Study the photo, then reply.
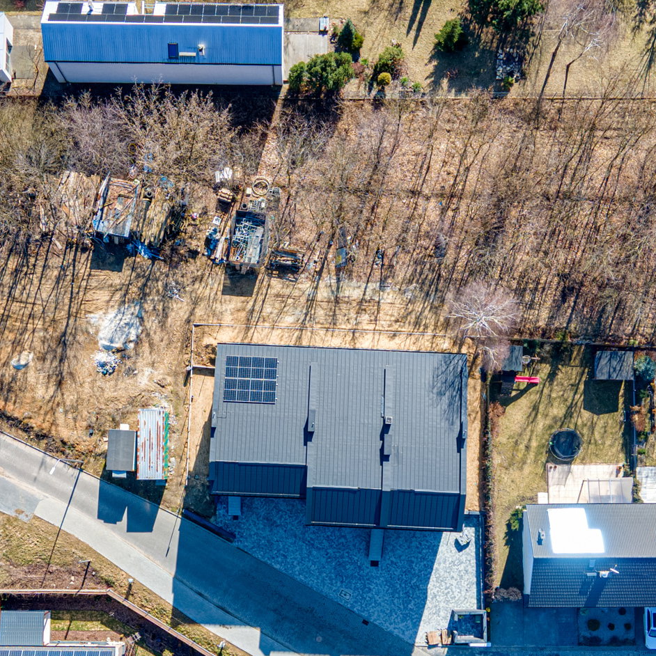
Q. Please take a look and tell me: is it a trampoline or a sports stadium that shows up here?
trampoline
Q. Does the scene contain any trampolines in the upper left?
No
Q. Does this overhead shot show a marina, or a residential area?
residential area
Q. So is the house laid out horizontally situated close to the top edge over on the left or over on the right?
left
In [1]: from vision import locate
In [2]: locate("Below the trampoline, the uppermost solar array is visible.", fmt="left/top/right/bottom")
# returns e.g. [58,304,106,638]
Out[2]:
[545,509,610,553]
